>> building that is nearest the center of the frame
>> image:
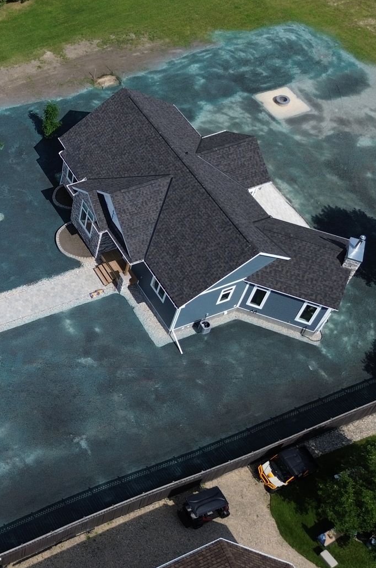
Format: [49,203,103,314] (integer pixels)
[59,85,368,356]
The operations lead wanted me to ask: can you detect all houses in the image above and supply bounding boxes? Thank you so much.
[59,85,368,356]
[164,543,282,568]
